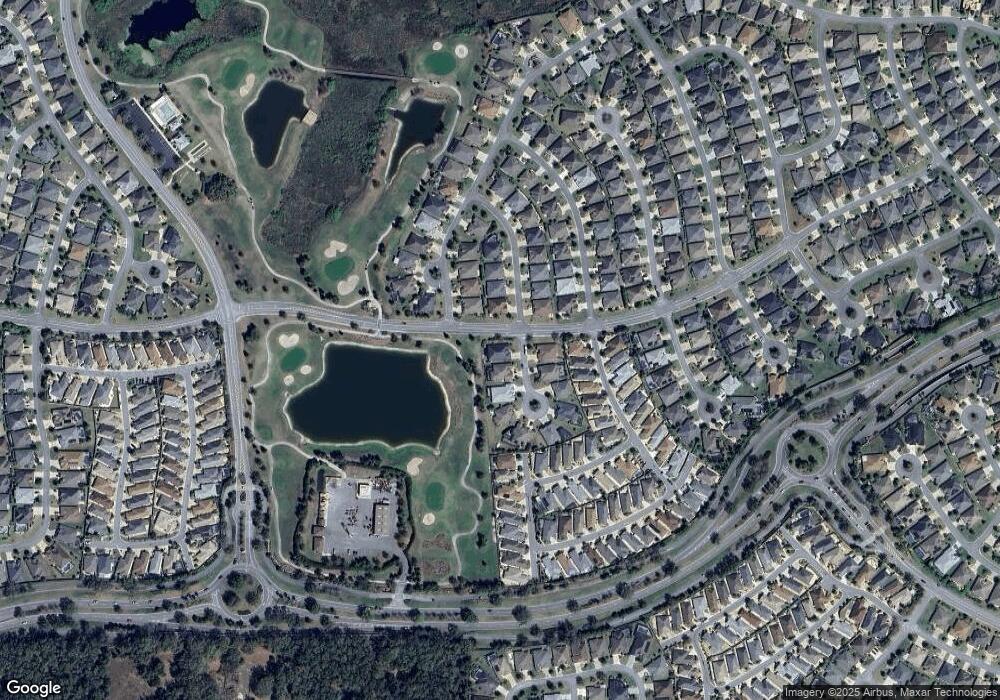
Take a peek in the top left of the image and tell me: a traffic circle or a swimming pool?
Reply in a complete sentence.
It is a swimming pool that can be seen in the top left of the image.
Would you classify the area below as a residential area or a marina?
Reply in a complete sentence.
The picture captures a residential area.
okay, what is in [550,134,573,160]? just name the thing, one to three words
house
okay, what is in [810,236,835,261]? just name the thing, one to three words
house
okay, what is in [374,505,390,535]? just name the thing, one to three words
barn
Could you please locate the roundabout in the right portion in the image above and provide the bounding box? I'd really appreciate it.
[773,421,839,485]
